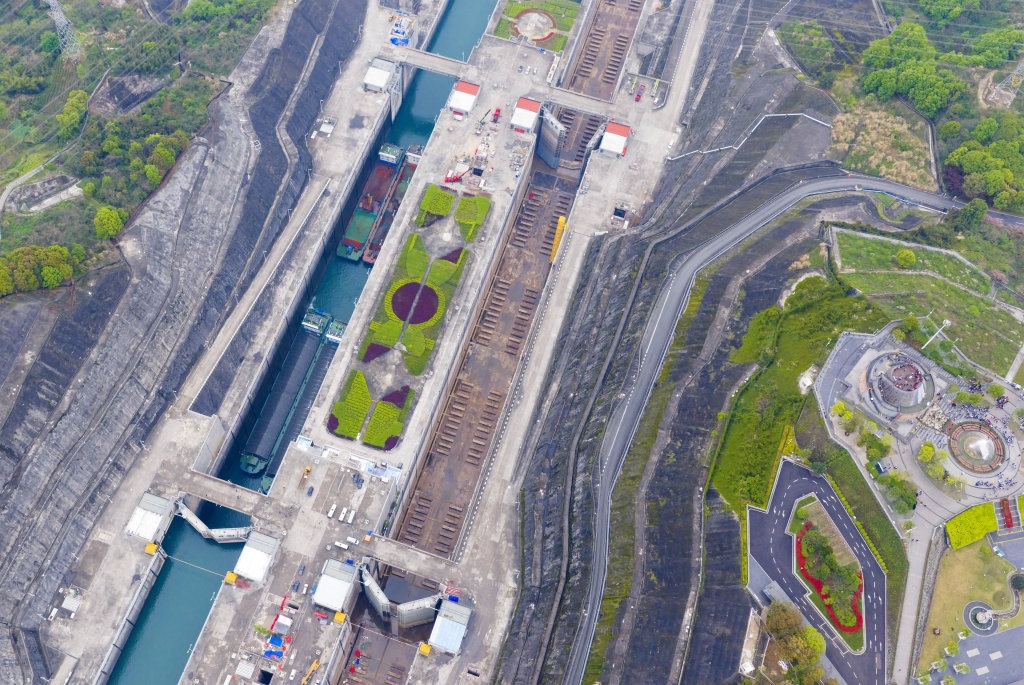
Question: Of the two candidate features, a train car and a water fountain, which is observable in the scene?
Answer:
water fountain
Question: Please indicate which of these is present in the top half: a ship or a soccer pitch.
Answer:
ship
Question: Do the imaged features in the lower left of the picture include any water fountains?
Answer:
No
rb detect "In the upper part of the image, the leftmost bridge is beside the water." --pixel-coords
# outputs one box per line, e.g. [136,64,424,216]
[398,46,468,82]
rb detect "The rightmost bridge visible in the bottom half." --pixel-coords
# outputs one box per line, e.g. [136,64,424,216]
[366,529,457,580]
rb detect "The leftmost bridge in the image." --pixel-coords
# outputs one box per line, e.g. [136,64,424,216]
[177,468,268,518]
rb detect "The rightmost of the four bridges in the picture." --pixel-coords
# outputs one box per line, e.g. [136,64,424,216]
[545,85,614,120]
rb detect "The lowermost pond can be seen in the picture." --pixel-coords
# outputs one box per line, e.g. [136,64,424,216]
[959,594,1005,641]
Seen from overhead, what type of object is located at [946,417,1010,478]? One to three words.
fountain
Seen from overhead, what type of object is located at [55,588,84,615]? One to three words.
shed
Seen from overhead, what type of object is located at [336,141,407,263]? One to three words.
ship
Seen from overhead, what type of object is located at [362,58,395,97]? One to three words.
building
